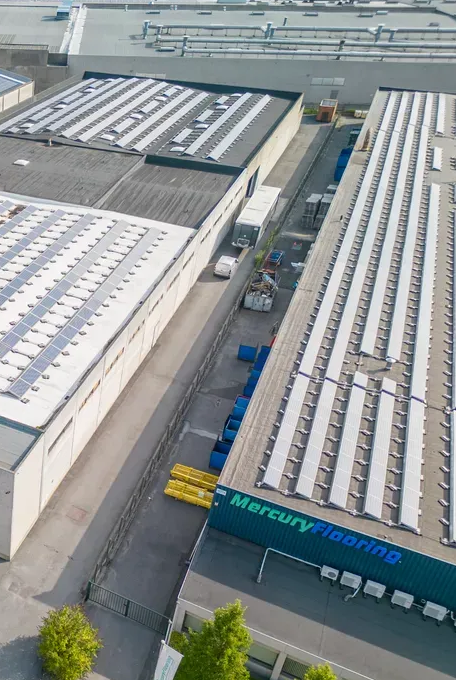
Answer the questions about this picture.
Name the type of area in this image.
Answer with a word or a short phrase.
industrial area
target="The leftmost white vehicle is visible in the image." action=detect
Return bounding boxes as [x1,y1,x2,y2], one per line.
[212,252,244,277]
